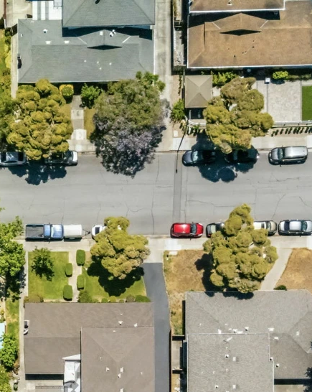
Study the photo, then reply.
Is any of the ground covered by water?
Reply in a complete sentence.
No, there is no water in the image.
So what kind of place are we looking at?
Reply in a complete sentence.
What you see here is a residential area.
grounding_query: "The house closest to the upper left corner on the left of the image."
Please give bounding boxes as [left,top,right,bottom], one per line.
[16,0,155,87]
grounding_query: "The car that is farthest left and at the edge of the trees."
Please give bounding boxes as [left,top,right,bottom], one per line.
[0,150,26,167]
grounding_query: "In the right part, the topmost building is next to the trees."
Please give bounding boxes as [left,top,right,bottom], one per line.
[186,0,312,73]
